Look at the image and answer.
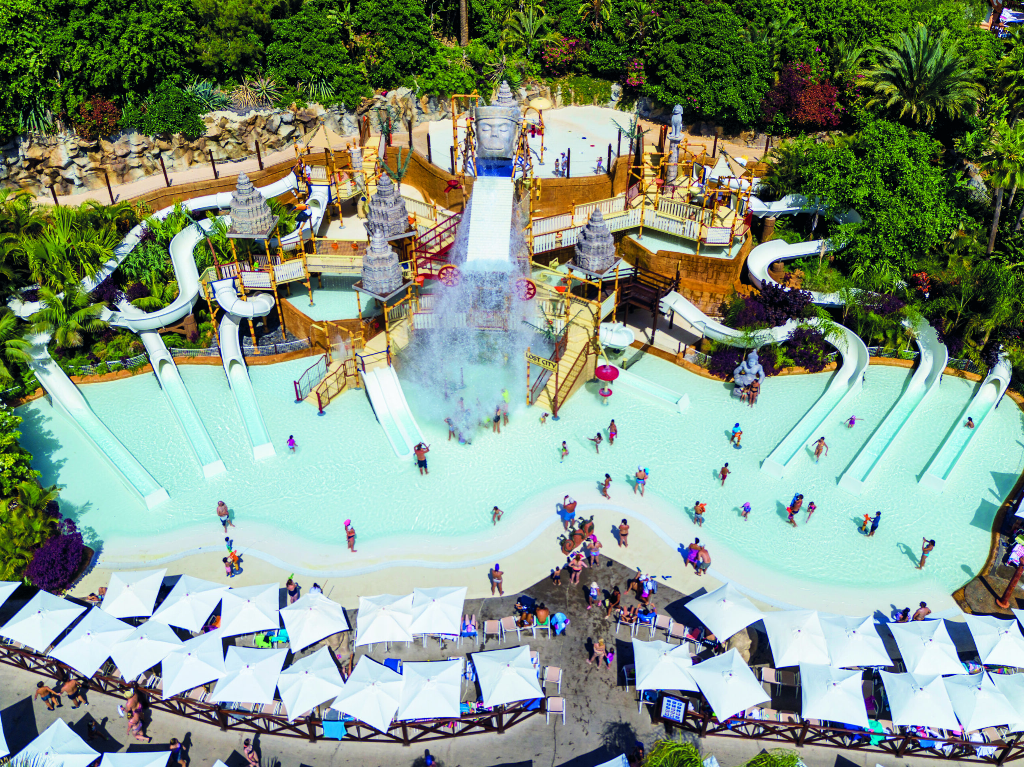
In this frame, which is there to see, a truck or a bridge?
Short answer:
bridge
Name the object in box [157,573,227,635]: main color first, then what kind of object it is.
white umbrella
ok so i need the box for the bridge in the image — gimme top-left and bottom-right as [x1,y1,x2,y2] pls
[303,239,362,276]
